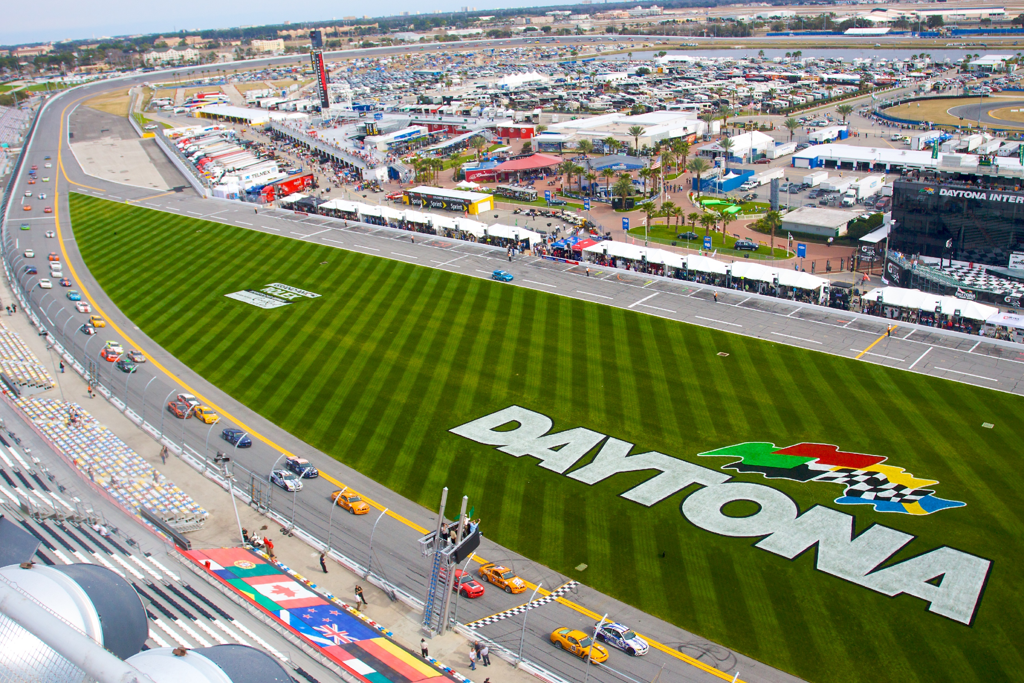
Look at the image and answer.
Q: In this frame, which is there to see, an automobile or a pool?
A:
automobile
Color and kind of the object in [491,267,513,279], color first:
blue vehicle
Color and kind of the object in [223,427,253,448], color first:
blue car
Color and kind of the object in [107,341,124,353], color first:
white vehicle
